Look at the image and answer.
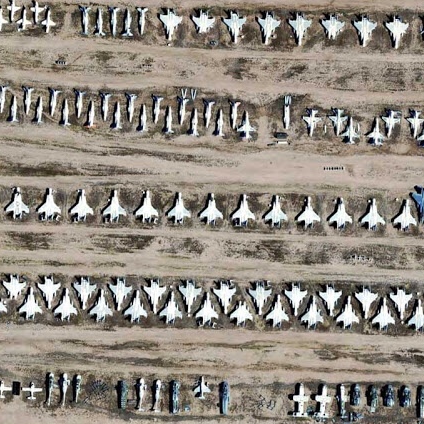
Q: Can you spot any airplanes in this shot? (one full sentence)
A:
Yes, the image includes an airplane.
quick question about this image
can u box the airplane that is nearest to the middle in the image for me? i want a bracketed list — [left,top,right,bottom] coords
[201,193,223,225]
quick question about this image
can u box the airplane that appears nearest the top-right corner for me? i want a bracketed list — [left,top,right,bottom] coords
[386,16,409,48]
